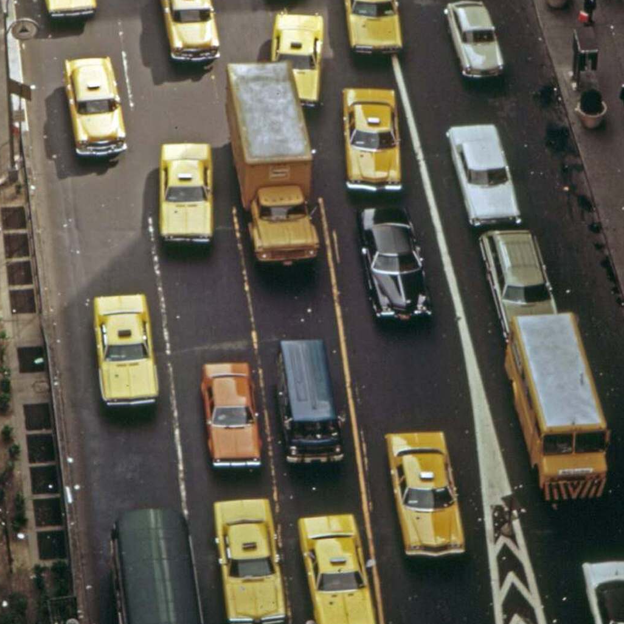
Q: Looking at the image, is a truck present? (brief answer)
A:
Yes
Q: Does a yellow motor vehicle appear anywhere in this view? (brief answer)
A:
Yes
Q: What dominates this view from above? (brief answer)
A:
paved ground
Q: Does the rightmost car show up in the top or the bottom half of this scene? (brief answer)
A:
bottom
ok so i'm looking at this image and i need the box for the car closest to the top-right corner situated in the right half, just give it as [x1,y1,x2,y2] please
[443,0,505,78]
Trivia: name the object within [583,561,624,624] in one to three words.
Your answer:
car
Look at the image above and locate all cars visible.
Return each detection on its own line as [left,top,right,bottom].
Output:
[47,0,97,18]
[583,561,624,624]
[199,361,264,467]
[443,0,505,78]
[343,91,401,194]
[271,14,322,105]
[478,238,554,357]
[63,59,127,157]
[296,510,375,624]
[92,294,159,406]
[211,495,287,624]
[447,123,521,225]
[157,142,214,241]
[358,209,429,323]
[162,0,220,61]
[346,0,401,53]
[384,429,465,556]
